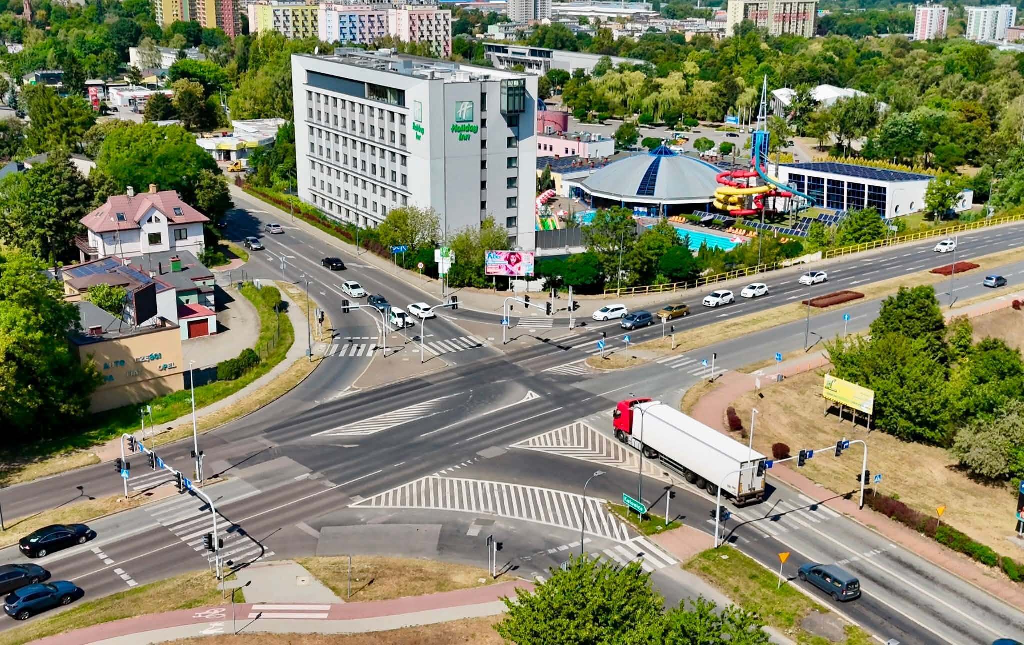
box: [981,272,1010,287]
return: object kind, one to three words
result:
car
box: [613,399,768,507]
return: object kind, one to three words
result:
truck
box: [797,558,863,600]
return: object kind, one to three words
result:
van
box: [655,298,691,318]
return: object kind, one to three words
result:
car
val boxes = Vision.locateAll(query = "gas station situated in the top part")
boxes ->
[110,91,176,113]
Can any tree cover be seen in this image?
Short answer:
Yes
